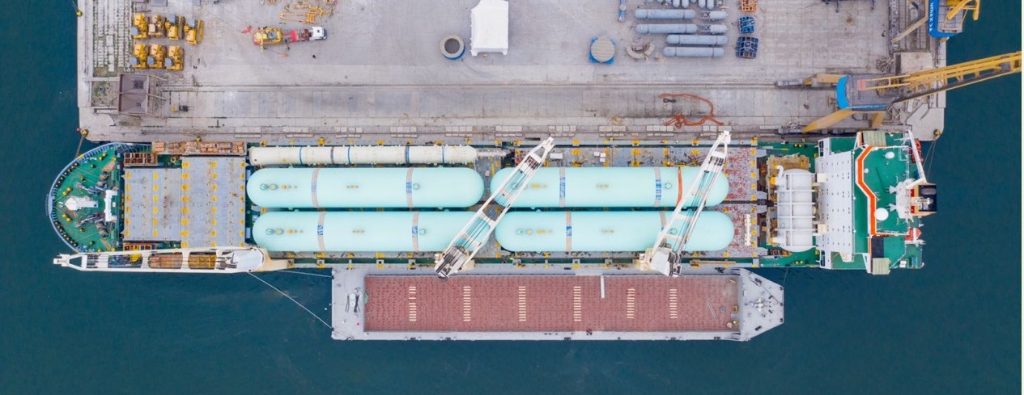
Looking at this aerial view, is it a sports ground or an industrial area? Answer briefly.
industrial area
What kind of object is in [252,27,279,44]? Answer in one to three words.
work vehicle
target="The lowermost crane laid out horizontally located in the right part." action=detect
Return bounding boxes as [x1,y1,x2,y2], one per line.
[781,51,1024,135]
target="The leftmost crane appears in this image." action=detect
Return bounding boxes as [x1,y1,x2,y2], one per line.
[53,244,292,275]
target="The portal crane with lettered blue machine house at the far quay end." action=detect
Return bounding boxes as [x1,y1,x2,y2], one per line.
[890,0,980,50]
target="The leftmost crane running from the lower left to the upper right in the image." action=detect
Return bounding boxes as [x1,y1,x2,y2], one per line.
[433,137,554,288]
